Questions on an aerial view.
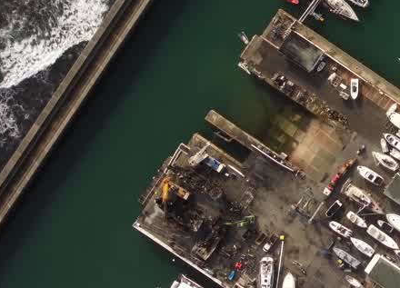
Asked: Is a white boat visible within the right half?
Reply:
Yes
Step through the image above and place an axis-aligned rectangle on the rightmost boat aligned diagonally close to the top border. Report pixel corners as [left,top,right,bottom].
[324,0,358,20]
